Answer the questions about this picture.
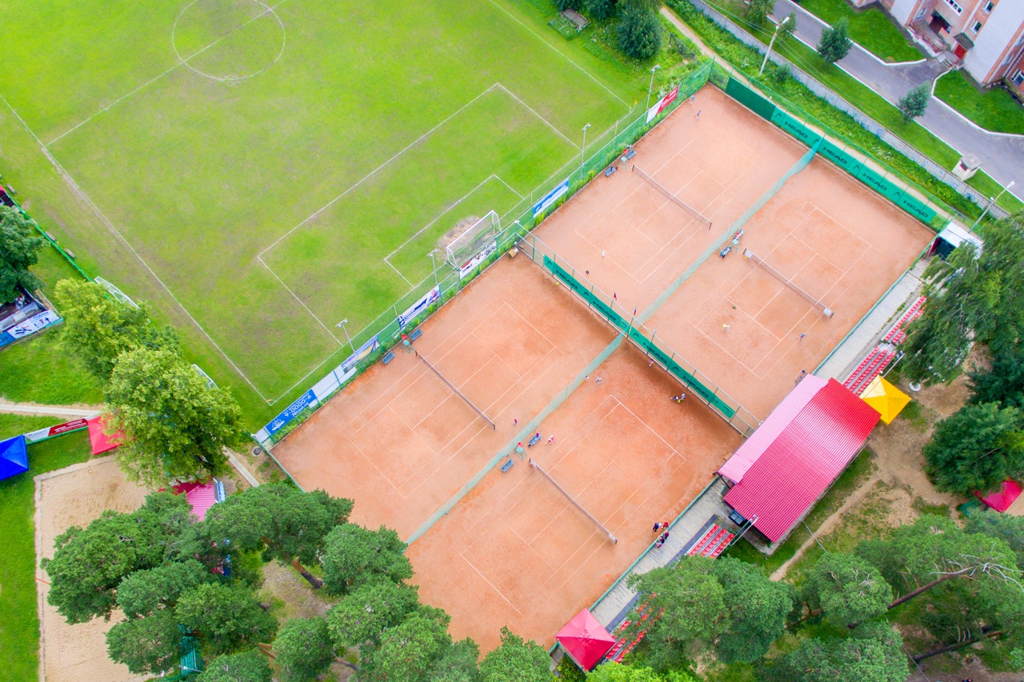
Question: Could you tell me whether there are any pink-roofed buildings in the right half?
Yes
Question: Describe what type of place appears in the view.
sports ground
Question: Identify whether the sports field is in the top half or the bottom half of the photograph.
top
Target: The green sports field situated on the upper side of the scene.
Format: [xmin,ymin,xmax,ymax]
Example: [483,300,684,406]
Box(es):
[0,0,666,445]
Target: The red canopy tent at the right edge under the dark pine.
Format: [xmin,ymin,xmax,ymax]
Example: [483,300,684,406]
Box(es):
[968,479,1021,516]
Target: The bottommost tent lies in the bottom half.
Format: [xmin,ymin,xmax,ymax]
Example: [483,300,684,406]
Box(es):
[556,608,616,671]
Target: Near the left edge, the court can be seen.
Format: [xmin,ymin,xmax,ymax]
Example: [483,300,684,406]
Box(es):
[34,447,178,682]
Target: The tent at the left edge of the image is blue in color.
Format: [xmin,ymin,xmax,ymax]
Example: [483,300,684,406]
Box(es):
[0,436,40,482]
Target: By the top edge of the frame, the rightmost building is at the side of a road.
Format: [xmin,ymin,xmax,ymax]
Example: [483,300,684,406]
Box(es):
[850,0,1024,95]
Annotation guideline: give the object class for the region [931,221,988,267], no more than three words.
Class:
shed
